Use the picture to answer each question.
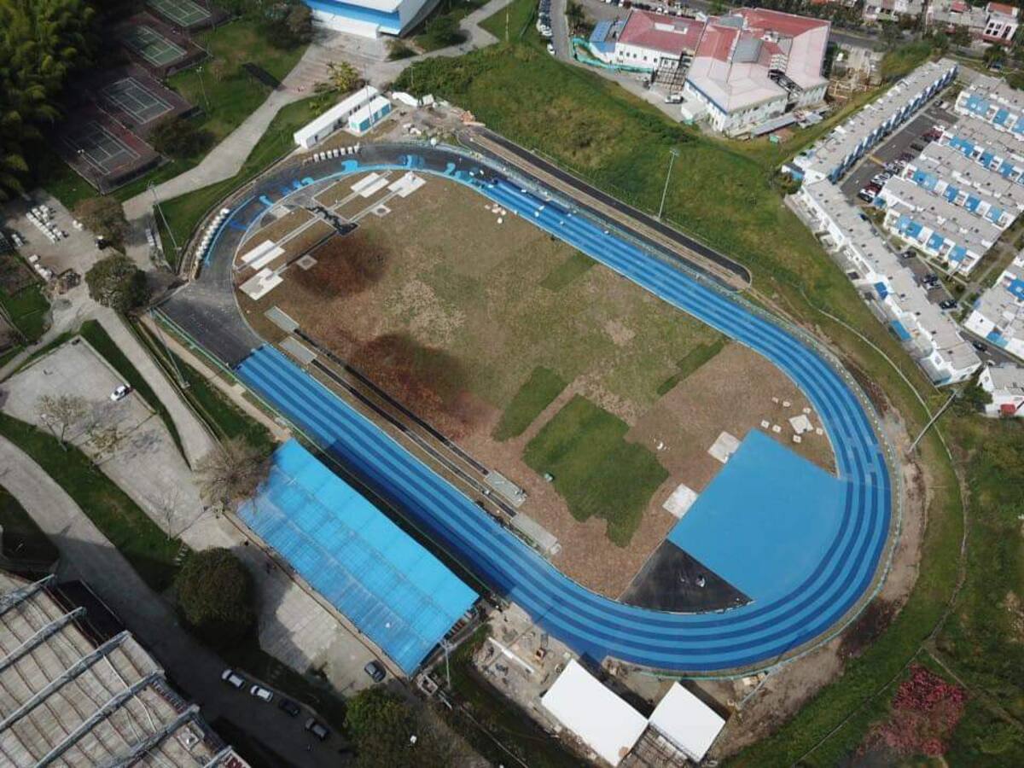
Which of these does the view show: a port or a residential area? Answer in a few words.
residential area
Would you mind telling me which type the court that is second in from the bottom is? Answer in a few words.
tennis court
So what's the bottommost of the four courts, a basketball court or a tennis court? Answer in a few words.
tennis court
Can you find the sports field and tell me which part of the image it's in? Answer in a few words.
center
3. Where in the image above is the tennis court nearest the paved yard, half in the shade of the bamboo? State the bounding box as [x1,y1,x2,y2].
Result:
[45,108,164,191]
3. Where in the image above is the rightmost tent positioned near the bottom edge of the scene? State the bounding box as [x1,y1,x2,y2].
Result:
[646,682,724,763]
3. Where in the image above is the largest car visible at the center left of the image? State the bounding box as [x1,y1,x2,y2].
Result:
[111,385,131,401]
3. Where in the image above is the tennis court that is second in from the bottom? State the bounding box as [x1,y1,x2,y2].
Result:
[86,62,193,139]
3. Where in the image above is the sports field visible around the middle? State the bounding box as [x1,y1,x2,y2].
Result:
[168,132,904,702]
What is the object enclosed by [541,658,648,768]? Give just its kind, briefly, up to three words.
tent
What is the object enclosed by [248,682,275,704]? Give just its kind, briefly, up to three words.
car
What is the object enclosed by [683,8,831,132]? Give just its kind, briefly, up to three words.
building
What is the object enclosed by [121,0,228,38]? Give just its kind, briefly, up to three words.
tennis court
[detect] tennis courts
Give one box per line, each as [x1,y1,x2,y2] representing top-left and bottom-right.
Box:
[45,108,164,191]
[99,13,203,81]
[86,62,193,139]
[121,0,228,38]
